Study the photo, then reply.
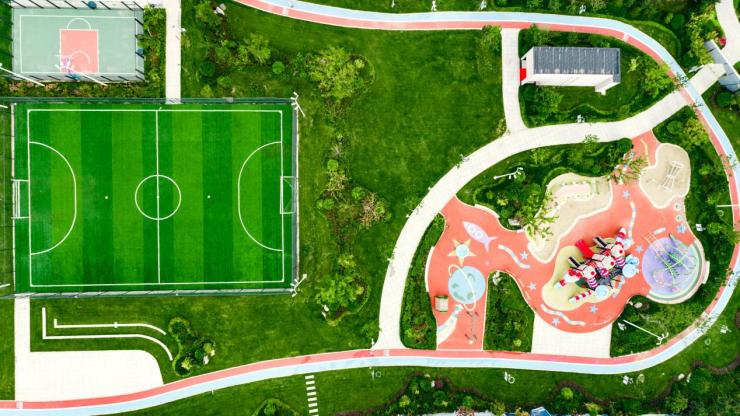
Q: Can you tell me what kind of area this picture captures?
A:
sports ground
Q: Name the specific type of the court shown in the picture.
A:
basketball court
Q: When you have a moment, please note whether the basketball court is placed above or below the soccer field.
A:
above it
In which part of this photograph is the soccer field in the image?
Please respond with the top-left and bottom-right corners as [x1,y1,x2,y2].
[13,103,298,294]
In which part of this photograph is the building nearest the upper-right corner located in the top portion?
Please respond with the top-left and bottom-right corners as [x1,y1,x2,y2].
[519,46,620,96]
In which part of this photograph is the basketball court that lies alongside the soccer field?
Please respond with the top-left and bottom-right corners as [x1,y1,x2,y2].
[11,5,145,84]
